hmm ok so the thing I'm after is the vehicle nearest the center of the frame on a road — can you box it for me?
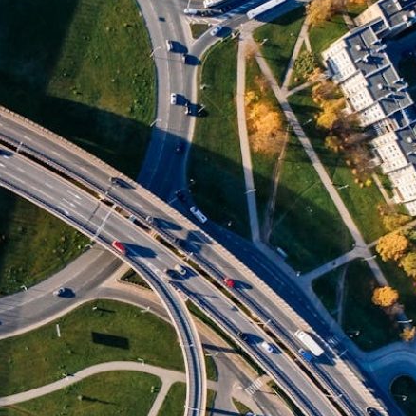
[190,206,207,222]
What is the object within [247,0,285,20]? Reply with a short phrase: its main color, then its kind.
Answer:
white bus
